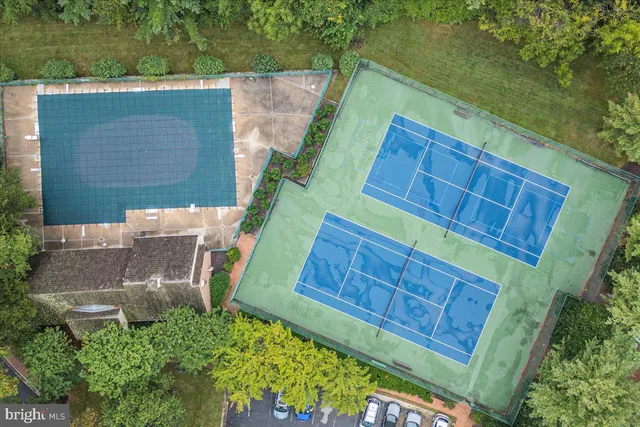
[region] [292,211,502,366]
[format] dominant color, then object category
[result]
blue tennis court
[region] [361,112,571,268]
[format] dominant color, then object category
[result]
blue tennis court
